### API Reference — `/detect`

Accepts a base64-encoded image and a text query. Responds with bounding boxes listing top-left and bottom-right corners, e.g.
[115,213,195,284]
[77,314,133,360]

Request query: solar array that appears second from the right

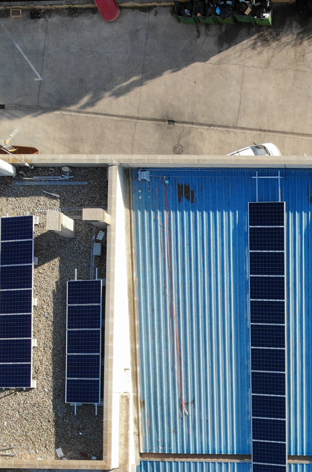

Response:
[65,268,105,414]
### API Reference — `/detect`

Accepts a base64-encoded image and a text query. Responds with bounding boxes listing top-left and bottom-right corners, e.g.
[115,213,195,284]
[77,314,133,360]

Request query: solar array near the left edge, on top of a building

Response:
[0,213,39,391]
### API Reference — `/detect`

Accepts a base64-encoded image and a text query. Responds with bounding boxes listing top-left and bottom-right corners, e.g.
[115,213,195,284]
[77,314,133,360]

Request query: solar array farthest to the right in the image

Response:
[247,169,289,472]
